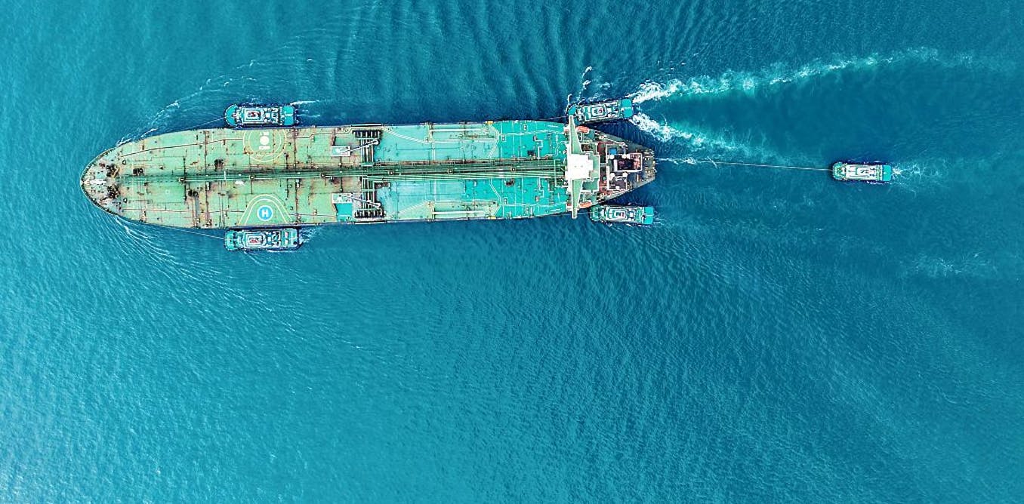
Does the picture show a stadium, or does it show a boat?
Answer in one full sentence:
The image shows a boat.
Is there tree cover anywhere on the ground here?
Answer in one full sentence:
No, no tree cover is visible.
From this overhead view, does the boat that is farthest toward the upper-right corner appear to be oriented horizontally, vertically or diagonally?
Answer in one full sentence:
The boat that is farthest toward the upper-right corner runs horizontally in the image.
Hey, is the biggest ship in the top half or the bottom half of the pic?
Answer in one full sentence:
You can find the biggest ship in the top half.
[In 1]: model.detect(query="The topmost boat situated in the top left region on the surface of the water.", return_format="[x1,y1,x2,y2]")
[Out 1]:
[225,105,296,127]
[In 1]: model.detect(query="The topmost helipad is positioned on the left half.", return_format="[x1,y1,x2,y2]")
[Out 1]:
[242,128,286,162]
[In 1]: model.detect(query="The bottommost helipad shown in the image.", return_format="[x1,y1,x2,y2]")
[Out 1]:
[239,194,295,224]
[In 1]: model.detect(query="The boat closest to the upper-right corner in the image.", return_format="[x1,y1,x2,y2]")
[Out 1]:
[830,162,892,183]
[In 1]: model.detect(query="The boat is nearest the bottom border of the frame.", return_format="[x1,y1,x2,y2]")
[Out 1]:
[224,228,299,251]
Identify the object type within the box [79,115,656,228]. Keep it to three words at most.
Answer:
ship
